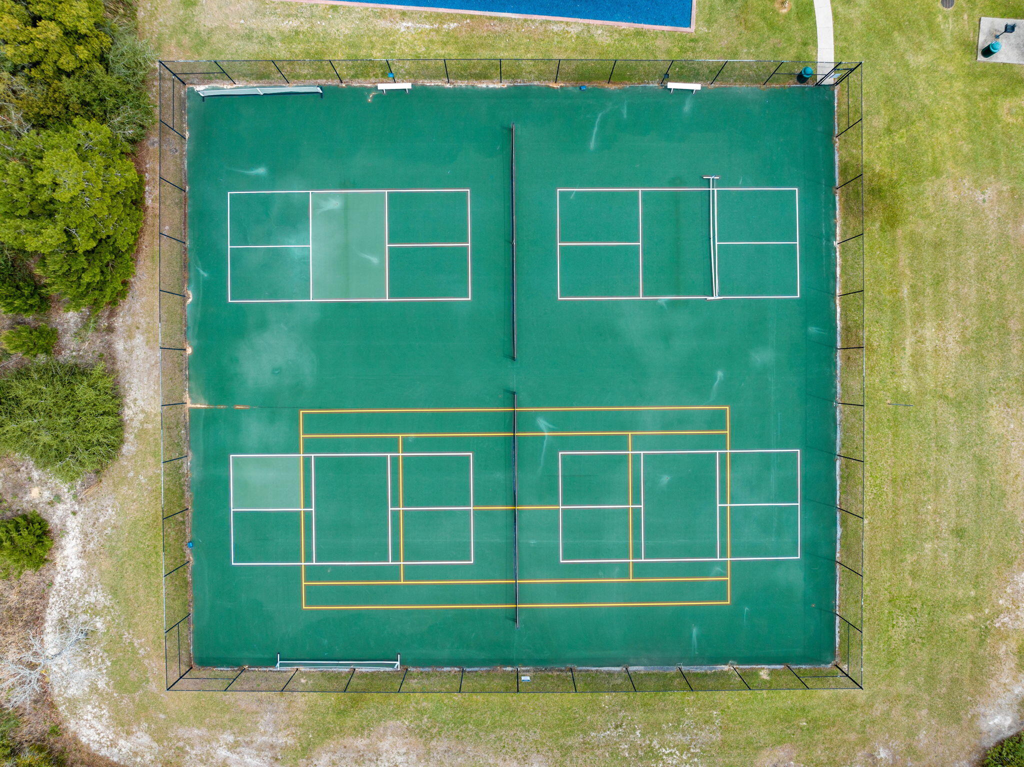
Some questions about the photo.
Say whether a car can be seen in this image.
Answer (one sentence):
No, no car is visible in the view.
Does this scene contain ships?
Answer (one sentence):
No, I find no ship anywhere in the image.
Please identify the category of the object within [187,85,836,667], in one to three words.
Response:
sports court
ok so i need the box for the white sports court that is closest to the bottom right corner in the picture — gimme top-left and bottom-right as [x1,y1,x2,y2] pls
[558,449,801,563]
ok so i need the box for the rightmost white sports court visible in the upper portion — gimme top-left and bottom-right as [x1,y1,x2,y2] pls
[556,187,801,301]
